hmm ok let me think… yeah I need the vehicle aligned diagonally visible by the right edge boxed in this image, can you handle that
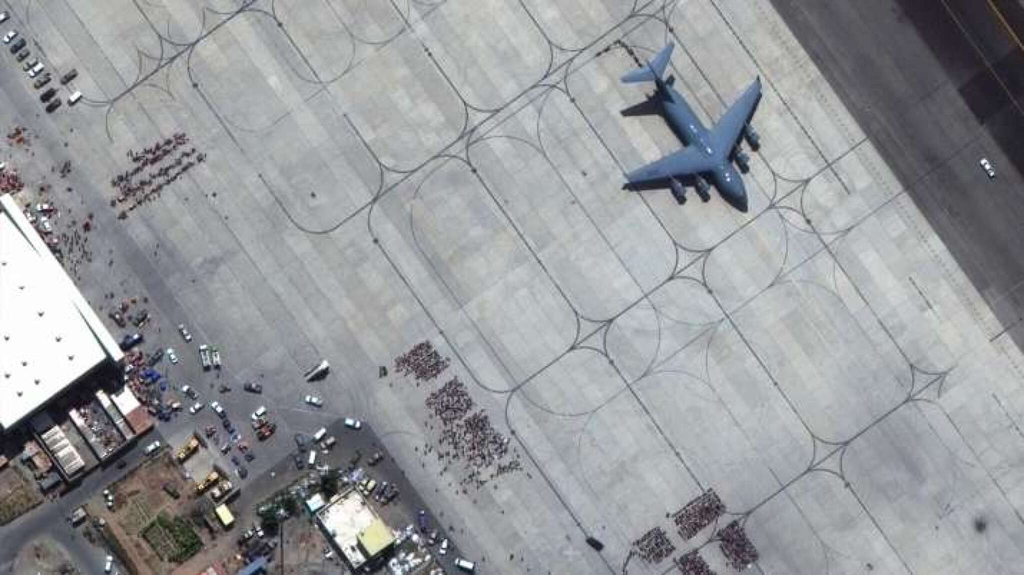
[980,160,994,177]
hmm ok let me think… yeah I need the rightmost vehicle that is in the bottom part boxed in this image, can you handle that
[585,535,604,552]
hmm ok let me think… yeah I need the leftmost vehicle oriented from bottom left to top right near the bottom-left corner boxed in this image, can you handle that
[69,508,88,524]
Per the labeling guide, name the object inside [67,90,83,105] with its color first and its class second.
white vehicle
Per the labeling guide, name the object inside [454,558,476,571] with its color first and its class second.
white vehicle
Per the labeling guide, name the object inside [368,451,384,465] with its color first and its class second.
gray car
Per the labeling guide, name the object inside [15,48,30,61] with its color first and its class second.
gray vehicle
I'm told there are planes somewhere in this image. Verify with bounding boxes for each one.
[618,37,757,208]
